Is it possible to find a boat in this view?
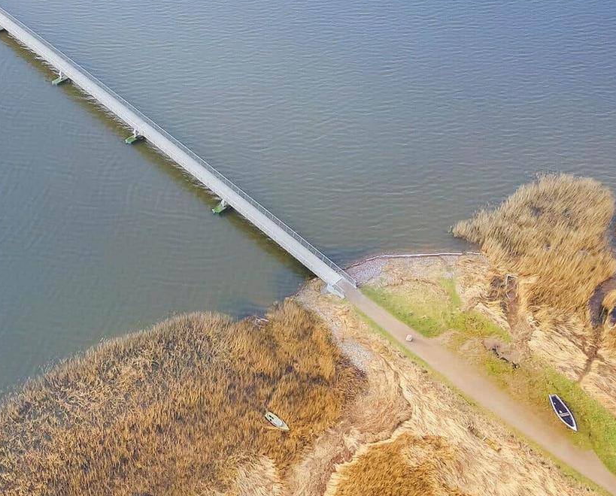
Yes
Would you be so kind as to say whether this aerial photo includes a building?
No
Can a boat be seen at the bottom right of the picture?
Yes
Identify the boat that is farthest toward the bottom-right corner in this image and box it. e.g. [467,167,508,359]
[548,394,578,431]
